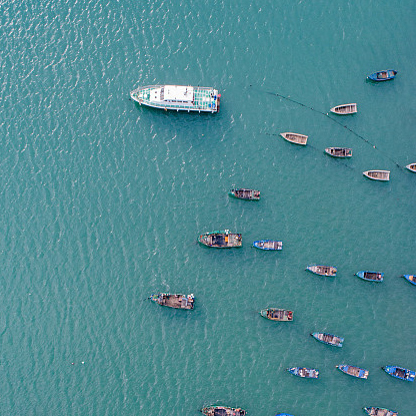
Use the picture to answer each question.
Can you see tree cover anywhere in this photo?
No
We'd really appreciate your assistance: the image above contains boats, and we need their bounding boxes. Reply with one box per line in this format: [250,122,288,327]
[380,366,416,381]
[398,275,416,286]
[285,366,319,378]
[328,104,357,116]
[332,364,368,379]
[308,332,344,346]
[255,307,293,321]
[360,407,398,416]
[146,291,195,310]
[406,163,416,173]
[251,240,282,251]
[230,188,260,201]
[303,265,337,276]
[363,170,390,181]
[203,406,246,416]
[197,231,242,248]
[353,270,384,282]
[325,147,353,158]
[365,70,397,81]
[280,132,308,145]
